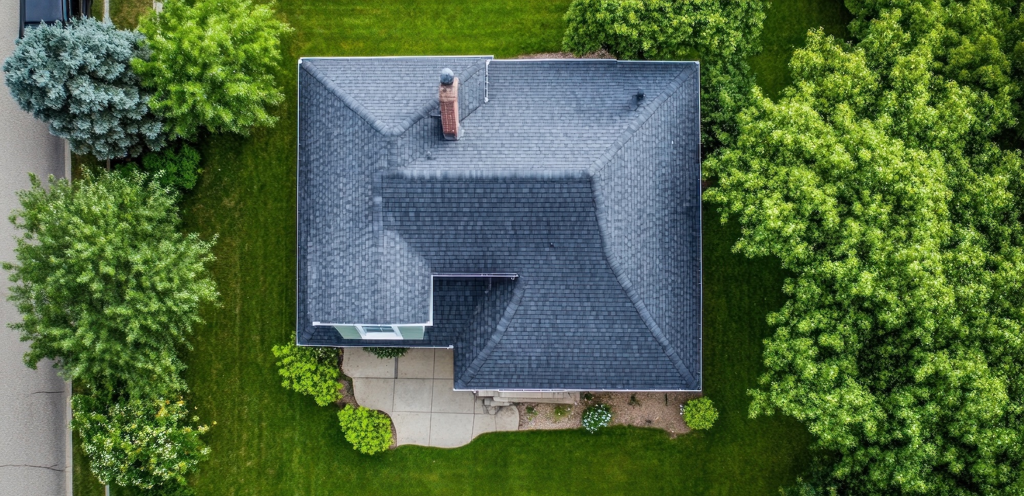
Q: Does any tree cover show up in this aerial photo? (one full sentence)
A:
Yes, tree cover shows up in the scene.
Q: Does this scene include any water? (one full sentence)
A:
No, there is no water in the image.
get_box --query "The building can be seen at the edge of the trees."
[295,56,704,394]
